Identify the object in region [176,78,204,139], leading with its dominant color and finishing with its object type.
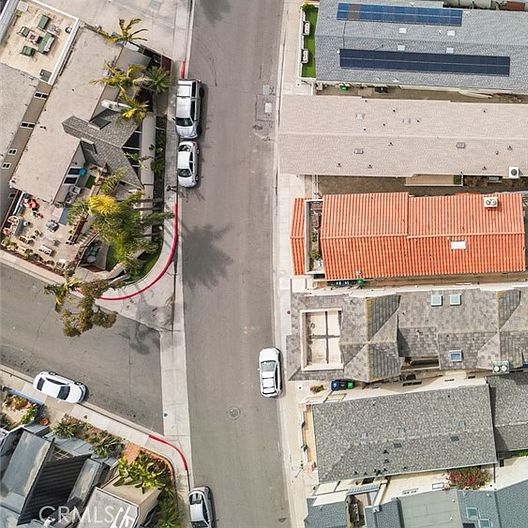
white truck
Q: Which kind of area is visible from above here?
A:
residential area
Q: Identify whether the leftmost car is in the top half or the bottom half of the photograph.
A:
bottom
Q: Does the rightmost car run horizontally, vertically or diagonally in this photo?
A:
vertically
